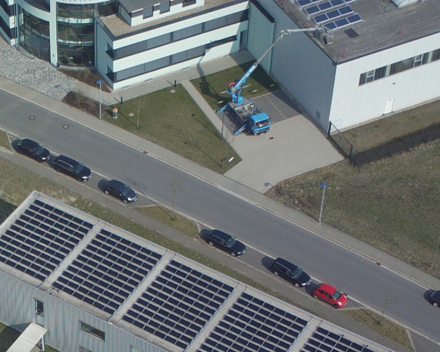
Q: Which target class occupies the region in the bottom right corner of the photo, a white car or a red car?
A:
red car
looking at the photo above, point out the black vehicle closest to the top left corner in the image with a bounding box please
[12,138,52,165]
